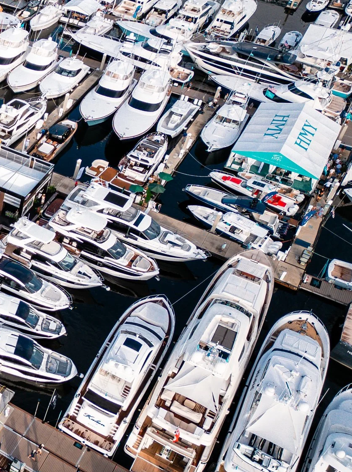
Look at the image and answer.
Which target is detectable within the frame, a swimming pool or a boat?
boat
